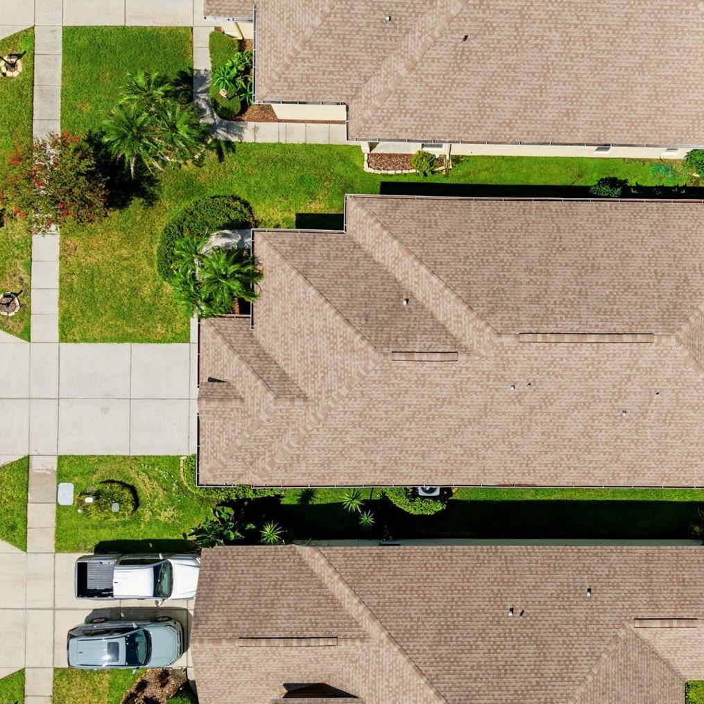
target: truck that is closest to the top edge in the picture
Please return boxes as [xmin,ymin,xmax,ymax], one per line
[74,550,199,607]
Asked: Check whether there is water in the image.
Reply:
No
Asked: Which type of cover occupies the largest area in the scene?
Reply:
buildings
